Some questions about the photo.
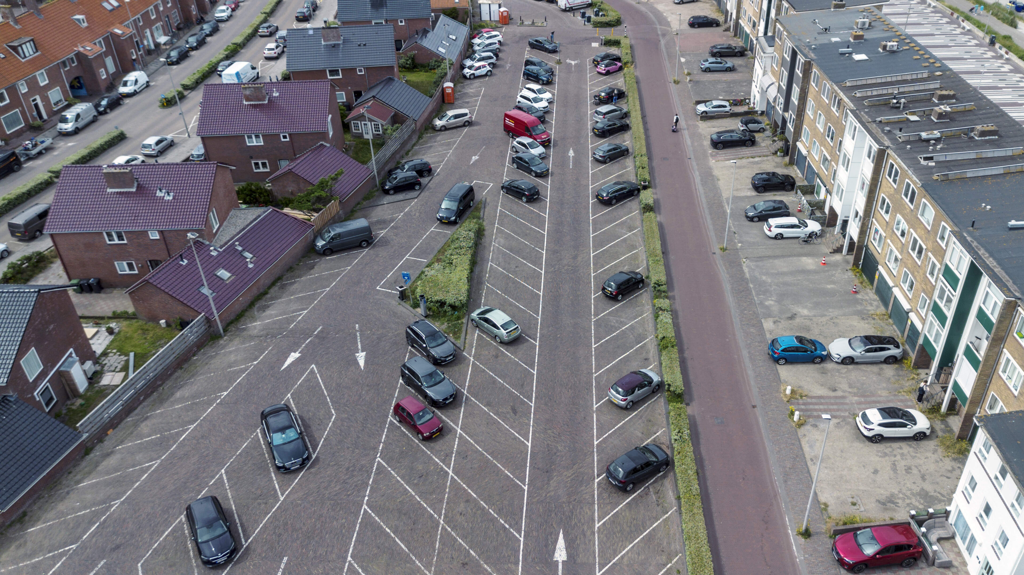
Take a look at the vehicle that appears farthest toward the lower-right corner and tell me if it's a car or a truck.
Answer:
car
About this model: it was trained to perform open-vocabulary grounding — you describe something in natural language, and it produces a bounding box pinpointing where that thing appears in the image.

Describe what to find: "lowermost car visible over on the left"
[186,492,233,567]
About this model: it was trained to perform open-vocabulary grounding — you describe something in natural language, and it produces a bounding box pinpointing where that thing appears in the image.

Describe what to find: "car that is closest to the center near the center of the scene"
[468,306,521,344]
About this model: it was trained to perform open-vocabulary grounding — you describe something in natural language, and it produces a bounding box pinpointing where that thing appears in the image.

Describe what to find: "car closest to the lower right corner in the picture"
[832,523,931,574]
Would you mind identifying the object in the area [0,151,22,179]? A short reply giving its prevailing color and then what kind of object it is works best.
black vehicle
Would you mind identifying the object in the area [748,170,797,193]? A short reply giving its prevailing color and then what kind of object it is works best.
black car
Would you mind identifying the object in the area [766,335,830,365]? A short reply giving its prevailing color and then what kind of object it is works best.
blue car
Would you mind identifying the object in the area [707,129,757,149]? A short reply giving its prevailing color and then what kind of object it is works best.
black car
